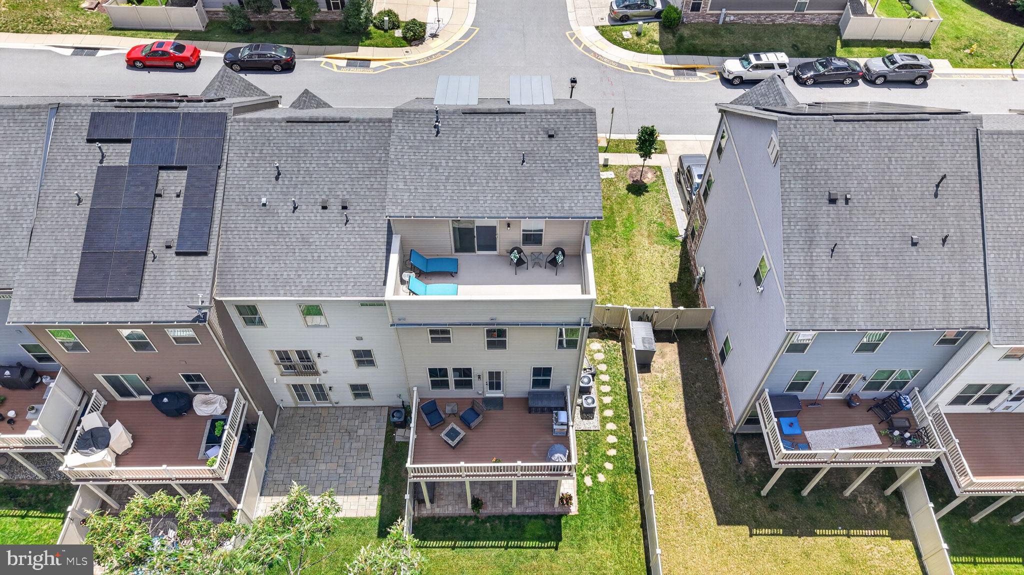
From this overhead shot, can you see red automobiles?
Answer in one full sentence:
Yes, there's a red automobile down there.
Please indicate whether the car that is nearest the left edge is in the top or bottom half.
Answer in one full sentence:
The top half of the photo is where the car that is nearest the left edge is.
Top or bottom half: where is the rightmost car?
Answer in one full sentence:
The rightmost car sits in the top half of the picture.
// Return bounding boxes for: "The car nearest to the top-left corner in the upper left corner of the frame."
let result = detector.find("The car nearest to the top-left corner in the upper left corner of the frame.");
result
[131,37,210,68]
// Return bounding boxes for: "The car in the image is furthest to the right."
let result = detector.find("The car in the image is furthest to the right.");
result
[856,46,935,84]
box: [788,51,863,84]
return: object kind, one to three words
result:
car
